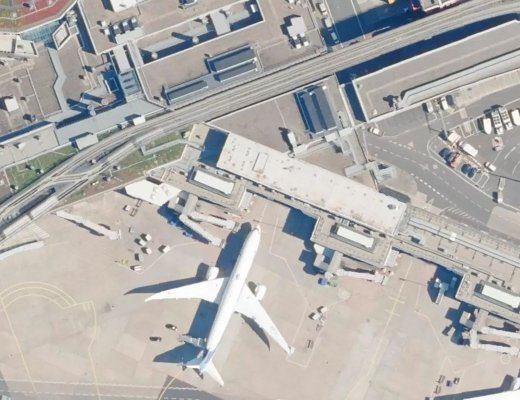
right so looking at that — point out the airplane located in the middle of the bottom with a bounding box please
[146,226,291,385]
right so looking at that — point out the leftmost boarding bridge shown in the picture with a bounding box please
[0,237,50,260]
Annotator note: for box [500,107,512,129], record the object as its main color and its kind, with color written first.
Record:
white vehicle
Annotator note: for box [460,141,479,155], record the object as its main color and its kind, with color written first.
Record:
white vehicle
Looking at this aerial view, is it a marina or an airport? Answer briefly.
airport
